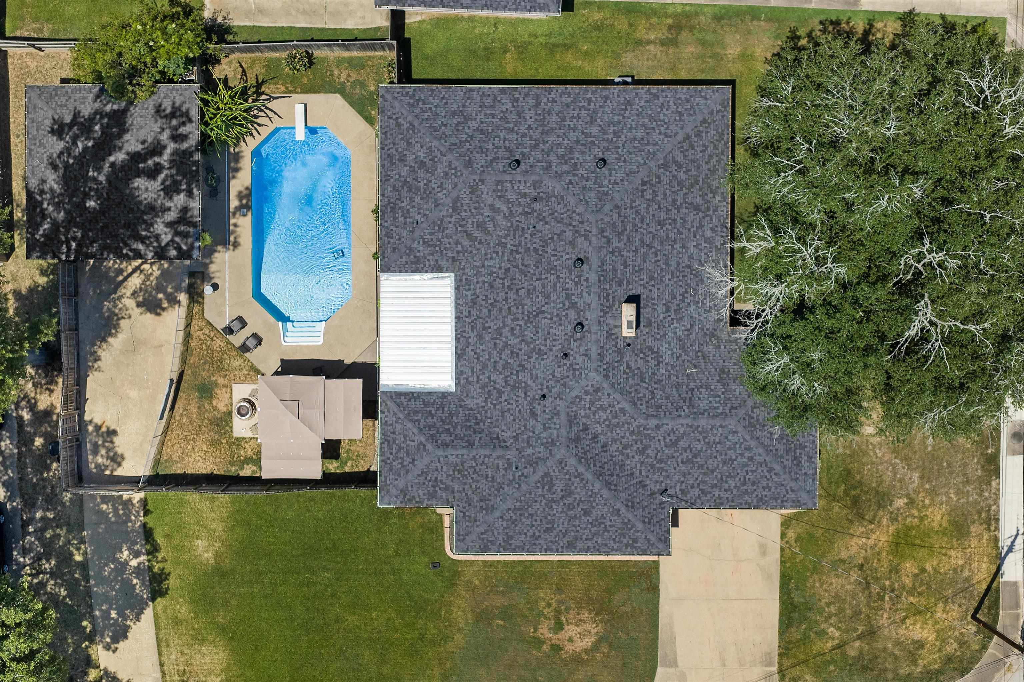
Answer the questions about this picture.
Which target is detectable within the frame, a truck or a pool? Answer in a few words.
pool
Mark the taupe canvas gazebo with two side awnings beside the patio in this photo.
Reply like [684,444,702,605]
[257,370,369,479]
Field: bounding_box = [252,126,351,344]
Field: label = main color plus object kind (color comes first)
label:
blue swimming pool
